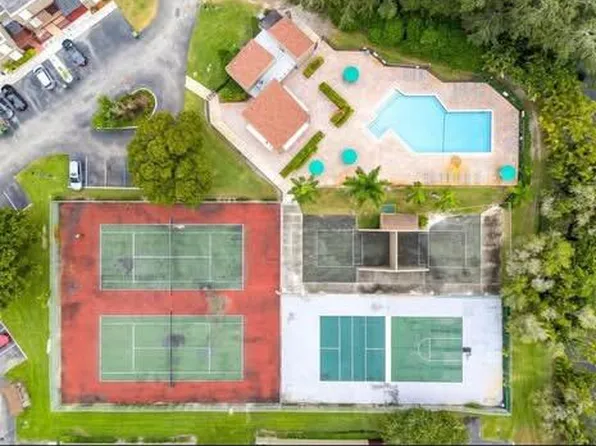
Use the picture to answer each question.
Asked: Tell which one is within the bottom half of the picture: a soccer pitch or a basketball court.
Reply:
basketball court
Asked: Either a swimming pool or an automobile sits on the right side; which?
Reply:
swimming pool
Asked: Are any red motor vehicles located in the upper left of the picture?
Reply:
No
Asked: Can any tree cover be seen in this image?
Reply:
Yes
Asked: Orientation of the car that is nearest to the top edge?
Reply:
diagonally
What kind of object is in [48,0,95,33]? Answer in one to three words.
house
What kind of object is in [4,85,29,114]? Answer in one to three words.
car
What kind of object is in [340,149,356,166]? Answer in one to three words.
umbrella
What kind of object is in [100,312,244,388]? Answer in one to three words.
tennis court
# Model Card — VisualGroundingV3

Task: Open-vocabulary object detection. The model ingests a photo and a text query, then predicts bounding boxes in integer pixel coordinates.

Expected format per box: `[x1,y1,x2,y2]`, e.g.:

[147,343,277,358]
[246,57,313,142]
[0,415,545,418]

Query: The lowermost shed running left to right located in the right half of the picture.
[379,214,417,228]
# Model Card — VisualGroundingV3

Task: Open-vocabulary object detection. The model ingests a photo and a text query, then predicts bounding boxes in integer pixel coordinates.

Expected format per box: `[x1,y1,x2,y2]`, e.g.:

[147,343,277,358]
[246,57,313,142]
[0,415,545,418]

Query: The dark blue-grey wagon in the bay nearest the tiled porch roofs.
[63,38,89,68]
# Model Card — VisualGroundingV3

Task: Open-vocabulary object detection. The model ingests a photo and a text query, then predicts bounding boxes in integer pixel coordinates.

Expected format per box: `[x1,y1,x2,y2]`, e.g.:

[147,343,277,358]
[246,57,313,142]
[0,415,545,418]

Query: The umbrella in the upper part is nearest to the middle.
[308,160,324,176]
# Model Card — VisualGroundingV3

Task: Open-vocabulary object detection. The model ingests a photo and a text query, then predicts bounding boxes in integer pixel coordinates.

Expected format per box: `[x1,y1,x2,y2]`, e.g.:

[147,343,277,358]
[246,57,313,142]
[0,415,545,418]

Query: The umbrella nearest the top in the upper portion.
[341,66,359,84]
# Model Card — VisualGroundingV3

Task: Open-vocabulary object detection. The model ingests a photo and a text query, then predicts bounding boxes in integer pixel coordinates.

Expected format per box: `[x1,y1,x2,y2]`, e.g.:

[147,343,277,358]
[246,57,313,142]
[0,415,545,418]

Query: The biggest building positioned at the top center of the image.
[224,17,315,155]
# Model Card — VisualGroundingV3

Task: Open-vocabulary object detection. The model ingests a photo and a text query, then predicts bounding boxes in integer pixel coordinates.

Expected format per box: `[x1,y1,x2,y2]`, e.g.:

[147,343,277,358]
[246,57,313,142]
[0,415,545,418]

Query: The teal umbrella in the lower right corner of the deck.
[498,165,515,182]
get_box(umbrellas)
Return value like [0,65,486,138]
[449,154,460,165]
[340,149,356,166]
[308,160,324,176]
[341,66,359,84]
[498,165,515,182]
